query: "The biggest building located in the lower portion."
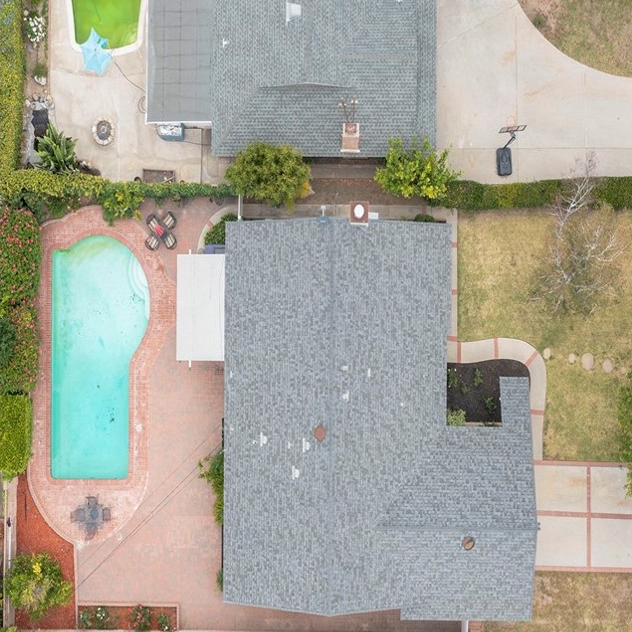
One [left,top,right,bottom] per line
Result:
[177,201,541,620]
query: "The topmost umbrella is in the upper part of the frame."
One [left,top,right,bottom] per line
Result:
[81,29,113,74]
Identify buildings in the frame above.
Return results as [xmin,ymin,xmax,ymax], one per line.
[145,0,436,162]
[177,201,541,620]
